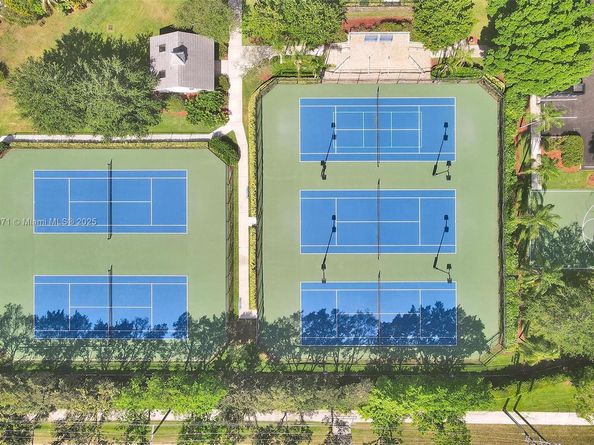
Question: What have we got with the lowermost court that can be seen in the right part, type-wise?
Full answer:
It turns out the lowermost court that can be seen in the right part is a tennis court.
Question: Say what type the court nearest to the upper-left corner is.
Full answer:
The court nearest to the upper-left corner in the image is a tennis court.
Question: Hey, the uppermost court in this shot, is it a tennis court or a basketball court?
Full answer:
It turns out the uppermost court is a tennis court.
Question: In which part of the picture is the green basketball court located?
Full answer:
Look in the right portion of the view to spot the green basketball court.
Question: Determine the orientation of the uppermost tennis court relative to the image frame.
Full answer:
The uppermost tennis court is oriented from left to right.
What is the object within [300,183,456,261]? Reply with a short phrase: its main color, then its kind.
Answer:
blue tennis court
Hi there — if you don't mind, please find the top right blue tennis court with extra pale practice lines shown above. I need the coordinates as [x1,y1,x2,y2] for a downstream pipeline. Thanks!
[300,90,456,167]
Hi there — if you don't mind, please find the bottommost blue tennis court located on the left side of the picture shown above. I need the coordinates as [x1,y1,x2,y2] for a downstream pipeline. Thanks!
[34,270,187,347]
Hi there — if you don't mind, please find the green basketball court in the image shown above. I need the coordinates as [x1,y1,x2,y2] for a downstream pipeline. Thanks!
[531,190,594,270]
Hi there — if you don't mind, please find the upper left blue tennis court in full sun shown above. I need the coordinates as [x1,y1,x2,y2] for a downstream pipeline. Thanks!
[34,163,187,240]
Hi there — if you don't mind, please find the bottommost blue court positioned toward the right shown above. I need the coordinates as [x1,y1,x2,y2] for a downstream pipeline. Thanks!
[301,276,457,354]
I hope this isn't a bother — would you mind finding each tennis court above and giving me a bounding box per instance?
[300,90,456,167]
[300,183,456,261]
[34,270,187,347]
[34,163,187,240]
[301,276,457,354]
